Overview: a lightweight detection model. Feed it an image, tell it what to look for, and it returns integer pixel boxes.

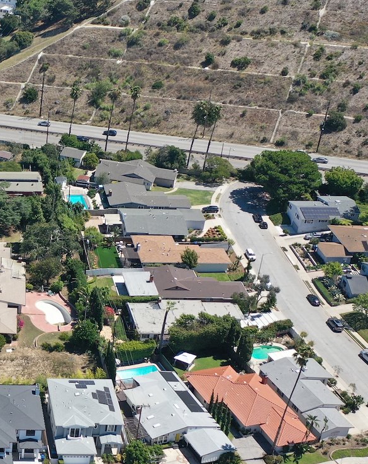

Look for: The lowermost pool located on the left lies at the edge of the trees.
[117,365,158,381]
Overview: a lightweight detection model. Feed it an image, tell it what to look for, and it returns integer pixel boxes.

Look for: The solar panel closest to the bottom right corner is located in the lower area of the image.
[175,391,206,412]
